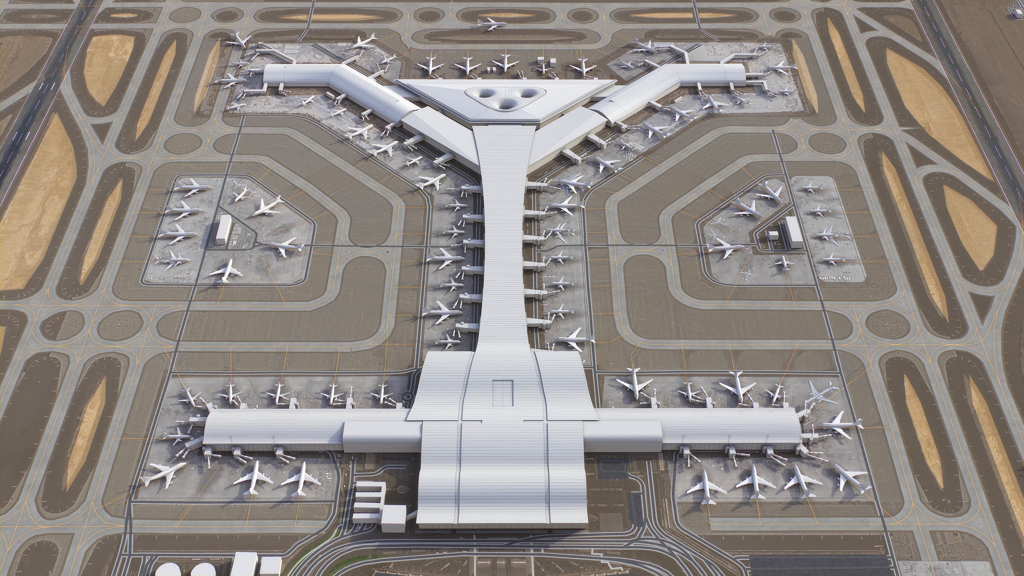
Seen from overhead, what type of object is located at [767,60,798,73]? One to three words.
airplane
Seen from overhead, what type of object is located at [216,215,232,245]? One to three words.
hangar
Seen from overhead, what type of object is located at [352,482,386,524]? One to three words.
building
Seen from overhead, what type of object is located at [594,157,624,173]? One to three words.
airplane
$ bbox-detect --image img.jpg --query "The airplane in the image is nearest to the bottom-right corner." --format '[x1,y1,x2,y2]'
[832,463,873,492]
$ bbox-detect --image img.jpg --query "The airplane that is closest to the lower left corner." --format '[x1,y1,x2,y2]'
[140,462,186,488]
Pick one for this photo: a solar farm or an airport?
airport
